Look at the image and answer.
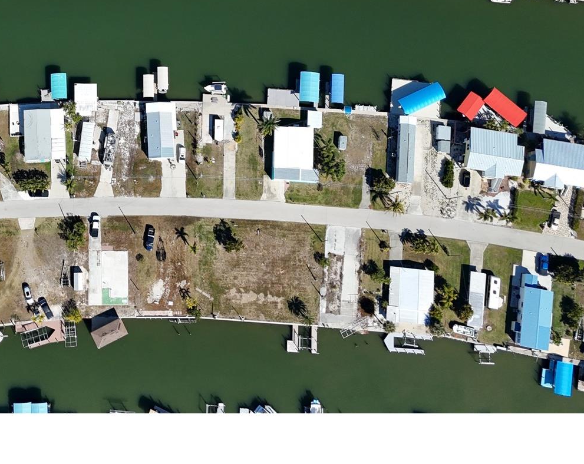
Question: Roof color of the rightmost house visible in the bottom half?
blue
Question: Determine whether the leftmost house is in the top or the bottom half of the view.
top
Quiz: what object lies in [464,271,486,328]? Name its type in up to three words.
house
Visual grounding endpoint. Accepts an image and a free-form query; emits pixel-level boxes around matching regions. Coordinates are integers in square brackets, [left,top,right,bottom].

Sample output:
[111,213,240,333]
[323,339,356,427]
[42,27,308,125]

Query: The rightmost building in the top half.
[528,138,584,197]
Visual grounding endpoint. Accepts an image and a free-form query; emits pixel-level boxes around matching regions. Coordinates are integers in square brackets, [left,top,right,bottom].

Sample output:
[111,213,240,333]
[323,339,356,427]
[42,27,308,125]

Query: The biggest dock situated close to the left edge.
[15,320,66,350]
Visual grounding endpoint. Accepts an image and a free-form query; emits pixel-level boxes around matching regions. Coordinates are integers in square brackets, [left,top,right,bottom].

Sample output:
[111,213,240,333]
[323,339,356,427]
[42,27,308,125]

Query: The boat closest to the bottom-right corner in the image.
[453,325,477,337]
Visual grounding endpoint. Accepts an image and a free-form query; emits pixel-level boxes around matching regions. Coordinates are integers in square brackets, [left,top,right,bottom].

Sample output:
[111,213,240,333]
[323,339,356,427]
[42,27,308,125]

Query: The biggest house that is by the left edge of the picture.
[23,109,66,163]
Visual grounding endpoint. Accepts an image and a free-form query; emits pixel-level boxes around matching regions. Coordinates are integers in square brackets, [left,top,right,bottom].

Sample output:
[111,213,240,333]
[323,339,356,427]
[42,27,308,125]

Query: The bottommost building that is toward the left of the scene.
[91,319,128,349]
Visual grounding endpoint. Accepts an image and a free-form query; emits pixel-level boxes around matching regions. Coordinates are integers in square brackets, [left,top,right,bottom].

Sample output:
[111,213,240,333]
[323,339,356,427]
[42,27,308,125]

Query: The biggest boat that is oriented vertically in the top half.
[104,132,118,172]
